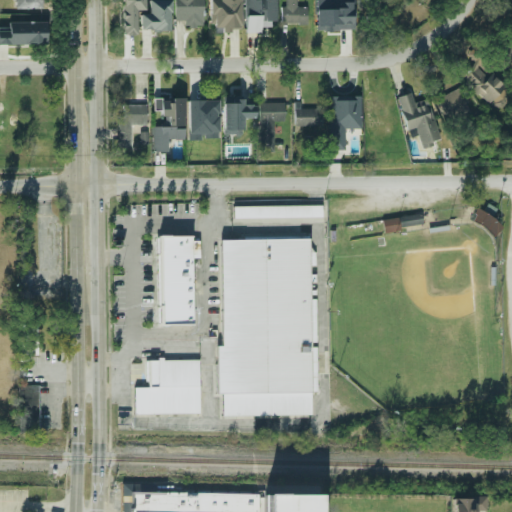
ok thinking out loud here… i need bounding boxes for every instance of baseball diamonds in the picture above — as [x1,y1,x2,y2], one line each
[330,226,500,409]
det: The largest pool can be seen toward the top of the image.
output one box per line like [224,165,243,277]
[226,144,252,158]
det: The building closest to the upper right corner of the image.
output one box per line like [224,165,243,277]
[470,66,506,110]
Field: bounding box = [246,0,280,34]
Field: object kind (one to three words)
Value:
house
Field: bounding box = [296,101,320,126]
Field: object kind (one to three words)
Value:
house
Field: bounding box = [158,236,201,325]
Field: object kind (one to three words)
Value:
building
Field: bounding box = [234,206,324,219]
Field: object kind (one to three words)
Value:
building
